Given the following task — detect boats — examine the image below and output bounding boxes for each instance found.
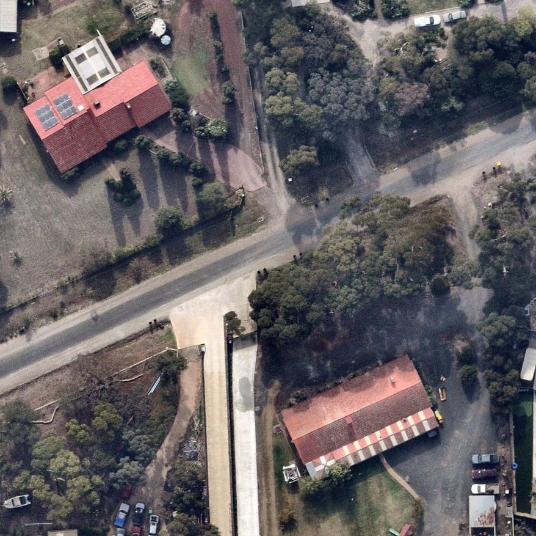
[1,494,32,506]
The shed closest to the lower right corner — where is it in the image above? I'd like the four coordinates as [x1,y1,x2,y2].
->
[470,496,495,528]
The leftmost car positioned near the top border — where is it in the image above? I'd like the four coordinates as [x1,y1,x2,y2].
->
[413,14,441,26]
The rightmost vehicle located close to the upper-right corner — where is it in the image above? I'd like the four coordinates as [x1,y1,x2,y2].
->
[446,9,468,22]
